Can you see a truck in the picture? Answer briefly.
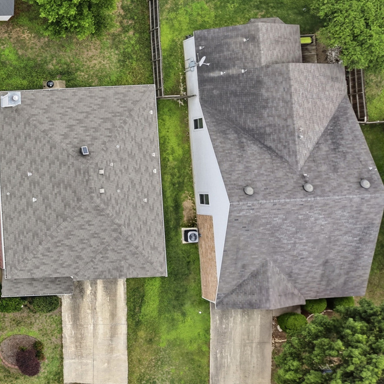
No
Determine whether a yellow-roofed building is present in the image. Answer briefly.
No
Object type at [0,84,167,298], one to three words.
house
